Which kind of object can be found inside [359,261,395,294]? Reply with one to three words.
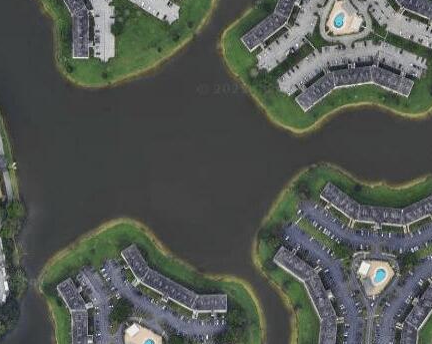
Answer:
swimming pool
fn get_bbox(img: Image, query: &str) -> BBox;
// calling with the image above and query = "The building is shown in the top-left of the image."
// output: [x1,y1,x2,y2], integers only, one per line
[63,0,94,61]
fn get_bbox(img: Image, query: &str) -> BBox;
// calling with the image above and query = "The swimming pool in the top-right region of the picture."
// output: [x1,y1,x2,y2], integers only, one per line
[325,0,364,35]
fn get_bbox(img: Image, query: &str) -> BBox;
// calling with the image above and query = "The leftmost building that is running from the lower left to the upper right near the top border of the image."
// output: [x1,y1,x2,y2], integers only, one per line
[242,0,298,54]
